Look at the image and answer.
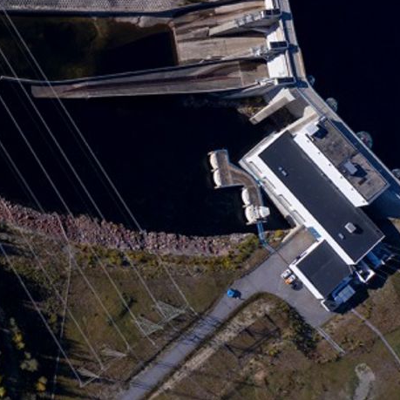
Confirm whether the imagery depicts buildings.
Yes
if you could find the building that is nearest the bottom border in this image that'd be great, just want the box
[237,115,390,311]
